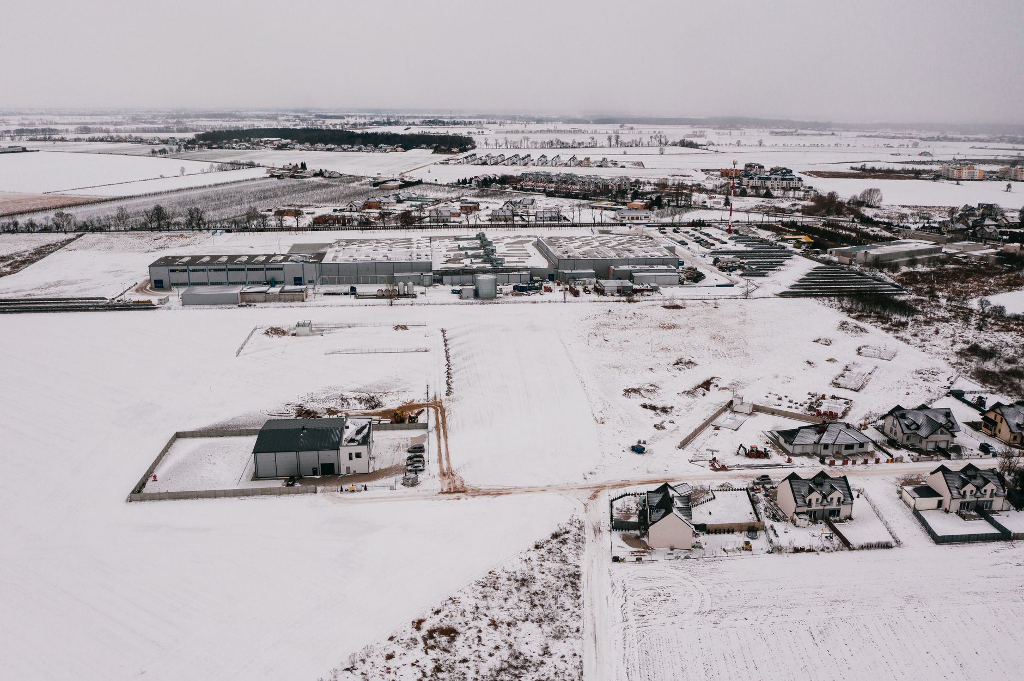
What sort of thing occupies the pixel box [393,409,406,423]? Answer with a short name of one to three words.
vehicle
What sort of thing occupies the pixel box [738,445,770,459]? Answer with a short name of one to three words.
work vehicle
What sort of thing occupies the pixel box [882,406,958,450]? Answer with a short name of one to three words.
house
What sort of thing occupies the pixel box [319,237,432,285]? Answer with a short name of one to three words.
building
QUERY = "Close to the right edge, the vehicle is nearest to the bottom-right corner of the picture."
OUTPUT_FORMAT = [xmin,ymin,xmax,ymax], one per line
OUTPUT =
[978,441,1000,454]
